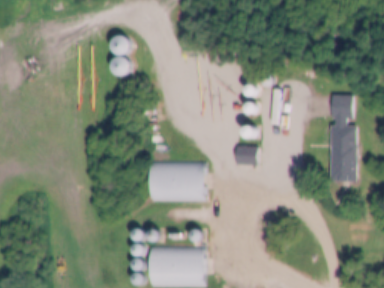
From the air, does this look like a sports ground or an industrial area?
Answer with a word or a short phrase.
industrial area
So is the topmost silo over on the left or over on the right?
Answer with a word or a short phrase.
left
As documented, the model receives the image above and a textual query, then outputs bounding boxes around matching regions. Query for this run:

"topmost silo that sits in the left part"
[108,34,136,56]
